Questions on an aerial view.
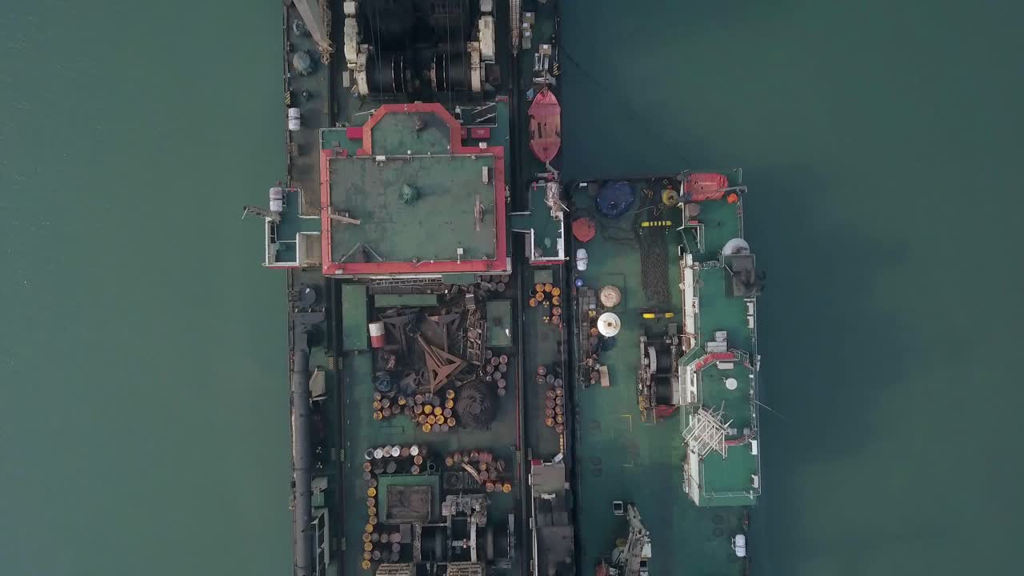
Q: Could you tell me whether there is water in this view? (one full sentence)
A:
Yes, there is water in the image.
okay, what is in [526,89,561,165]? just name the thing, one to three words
boat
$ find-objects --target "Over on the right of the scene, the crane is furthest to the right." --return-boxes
[593,502,652,576]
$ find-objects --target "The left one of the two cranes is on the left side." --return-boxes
[292,0,334,64]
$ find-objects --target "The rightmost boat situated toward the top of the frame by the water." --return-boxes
[685,173,728,201]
